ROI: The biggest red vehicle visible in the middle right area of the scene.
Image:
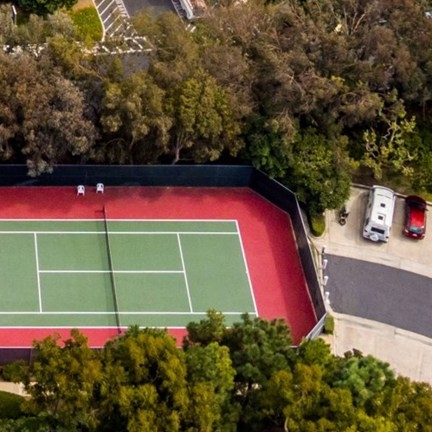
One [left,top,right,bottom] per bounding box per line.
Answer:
[403,194,431,238]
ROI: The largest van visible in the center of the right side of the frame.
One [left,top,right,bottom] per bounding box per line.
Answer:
[361,186,397,242]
